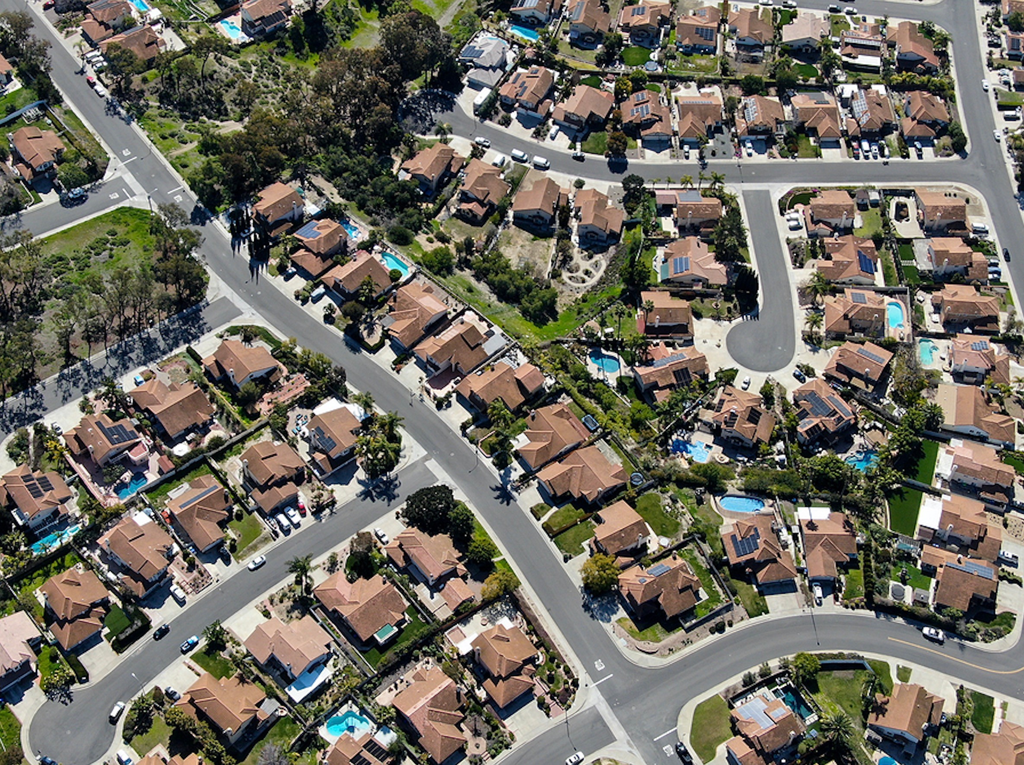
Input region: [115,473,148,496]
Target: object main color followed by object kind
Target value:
blue swimming pool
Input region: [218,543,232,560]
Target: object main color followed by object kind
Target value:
black car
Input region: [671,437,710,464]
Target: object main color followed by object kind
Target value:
blue swimming pool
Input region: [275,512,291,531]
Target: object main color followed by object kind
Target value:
white vehicle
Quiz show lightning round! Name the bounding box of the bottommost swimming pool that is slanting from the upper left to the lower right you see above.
[785,689,812,718]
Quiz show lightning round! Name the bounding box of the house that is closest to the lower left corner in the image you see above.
[0,606,43,686]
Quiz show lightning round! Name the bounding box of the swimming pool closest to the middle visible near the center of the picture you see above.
[588,348,620,373]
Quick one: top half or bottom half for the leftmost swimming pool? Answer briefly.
bottom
